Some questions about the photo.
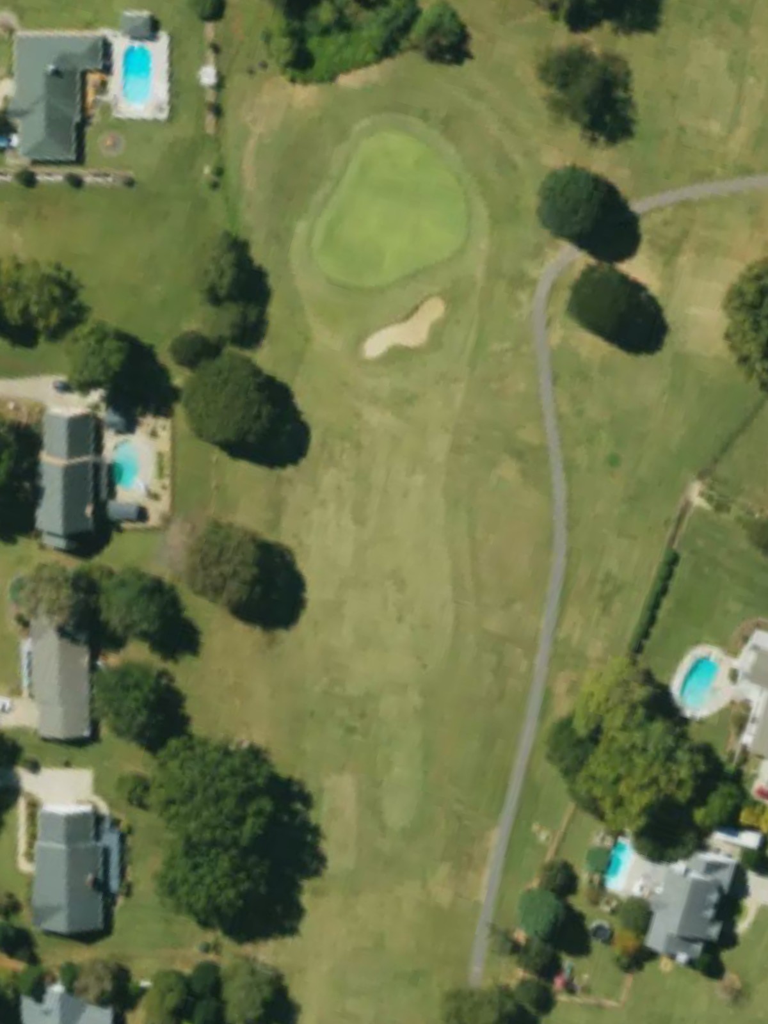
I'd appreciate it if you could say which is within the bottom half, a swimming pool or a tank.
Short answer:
swimming pool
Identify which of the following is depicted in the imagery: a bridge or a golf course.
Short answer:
golf course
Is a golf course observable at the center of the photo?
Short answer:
Yes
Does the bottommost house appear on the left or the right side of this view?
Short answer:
left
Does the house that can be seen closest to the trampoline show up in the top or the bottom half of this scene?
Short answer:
bottom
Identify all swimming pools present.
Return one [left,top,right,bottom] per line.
[104,432,156,502]
[599,833,637,899]
[96,32,169,119]
[671,645,745,719]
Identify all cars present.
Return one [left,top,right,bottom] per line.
[0,699,11,711]
[55,380,81,393]
[0,136,18,148]
[757,787,768,800]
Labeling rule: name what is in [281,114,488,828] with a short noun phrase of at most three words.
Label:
golf course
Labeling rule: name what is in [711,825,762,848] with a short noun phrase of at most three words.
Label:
trailer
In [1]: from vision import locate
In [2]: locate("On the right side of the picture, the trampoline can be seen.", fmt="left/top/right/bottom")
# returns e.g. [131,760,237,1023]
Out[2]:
[592,921,611,939]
